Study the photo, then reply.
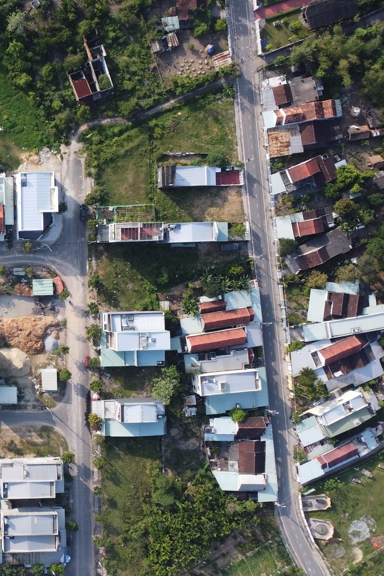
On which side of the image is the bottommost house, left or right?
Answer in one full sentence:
The bottommost house sits on the left side.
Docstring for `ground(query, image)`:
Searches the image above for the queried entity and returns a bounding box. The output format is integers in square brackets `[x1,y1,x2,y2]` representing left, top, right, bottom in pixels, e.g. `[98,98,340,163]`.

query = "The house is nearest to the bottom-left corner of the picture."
[0,500,66,567]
